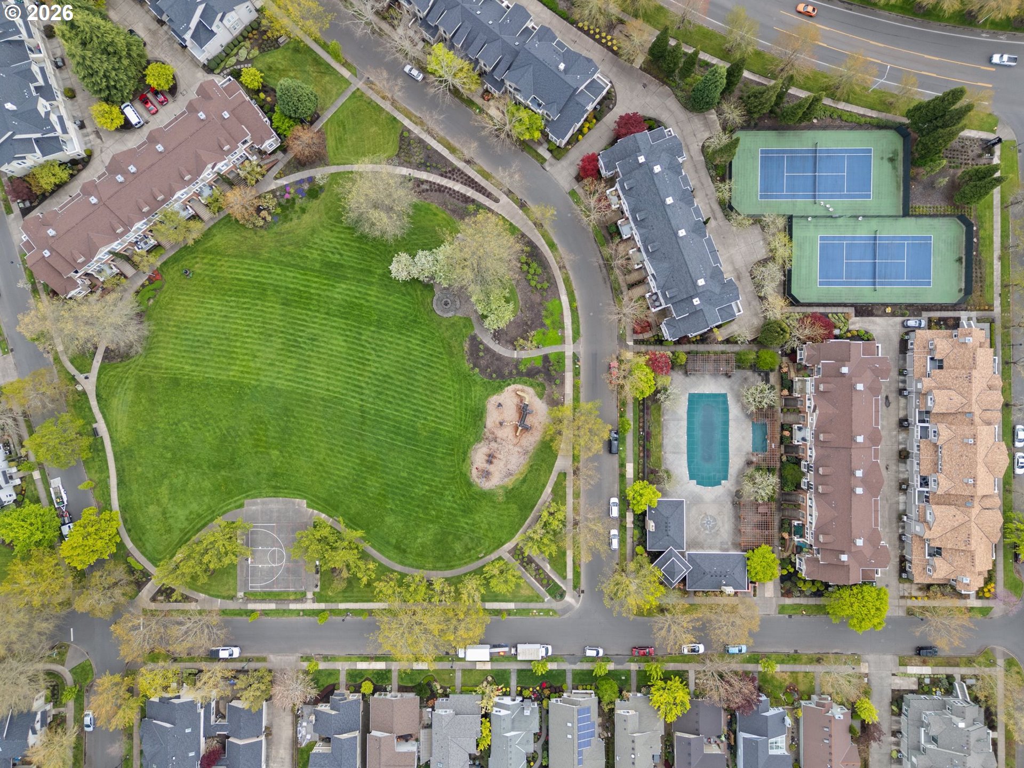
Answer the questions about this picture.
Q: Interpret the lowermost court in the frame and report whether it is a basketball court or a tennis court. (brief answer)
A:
basketball court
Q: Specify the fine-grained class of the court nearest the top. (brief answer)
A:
tennis court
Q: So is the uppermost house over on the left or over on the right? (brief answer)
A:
left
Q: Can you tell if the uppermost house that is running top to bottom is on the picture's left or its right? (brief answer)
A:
left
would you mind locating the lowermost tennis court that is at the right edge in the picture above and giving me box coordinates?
[792,213,974,303]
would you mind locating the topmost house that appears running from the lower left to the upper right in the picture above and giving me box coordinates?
[18,76,292,302]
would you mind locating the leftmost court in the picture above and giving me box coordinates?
[237,498,319,592]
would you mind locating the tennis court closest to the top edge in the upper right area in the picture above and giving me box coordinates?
[732,125,911,216]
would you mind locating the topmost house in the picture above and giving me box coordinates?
[155,0,265,64]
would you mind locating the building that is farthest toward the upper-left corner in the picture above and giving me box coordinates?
[0,0,86,174]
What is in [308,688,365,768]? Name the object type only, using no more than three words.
house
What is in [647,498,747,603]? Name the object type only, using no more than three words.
building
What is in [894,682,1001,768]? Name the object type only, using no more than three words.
house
